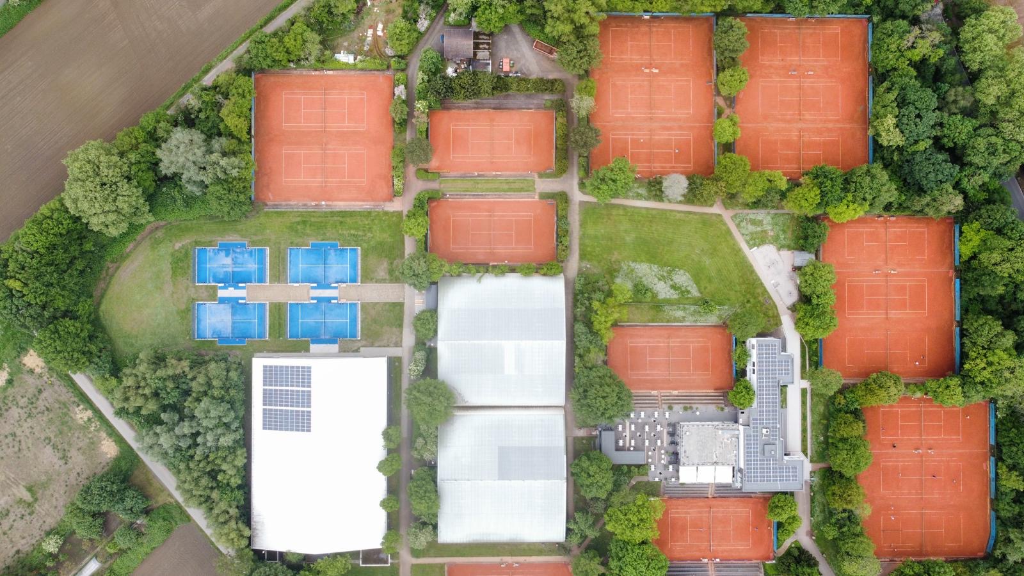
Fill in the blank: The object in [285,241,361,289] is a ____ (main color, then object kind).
blue sports court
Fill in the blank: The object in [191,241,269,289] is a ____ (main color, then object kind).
blue sports court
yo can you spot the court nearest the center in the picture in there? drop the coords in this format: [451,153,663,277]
[429,200,556,264]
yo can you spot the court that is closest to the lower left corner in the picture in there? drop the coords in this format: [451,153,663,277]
[191,297,269,345]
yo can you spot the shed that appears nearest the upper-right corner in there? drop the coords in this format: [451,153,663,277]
[789,252,814,267]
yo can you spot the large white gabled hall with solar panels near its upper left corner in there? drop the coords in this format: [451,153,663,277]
[253,356,392,554]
